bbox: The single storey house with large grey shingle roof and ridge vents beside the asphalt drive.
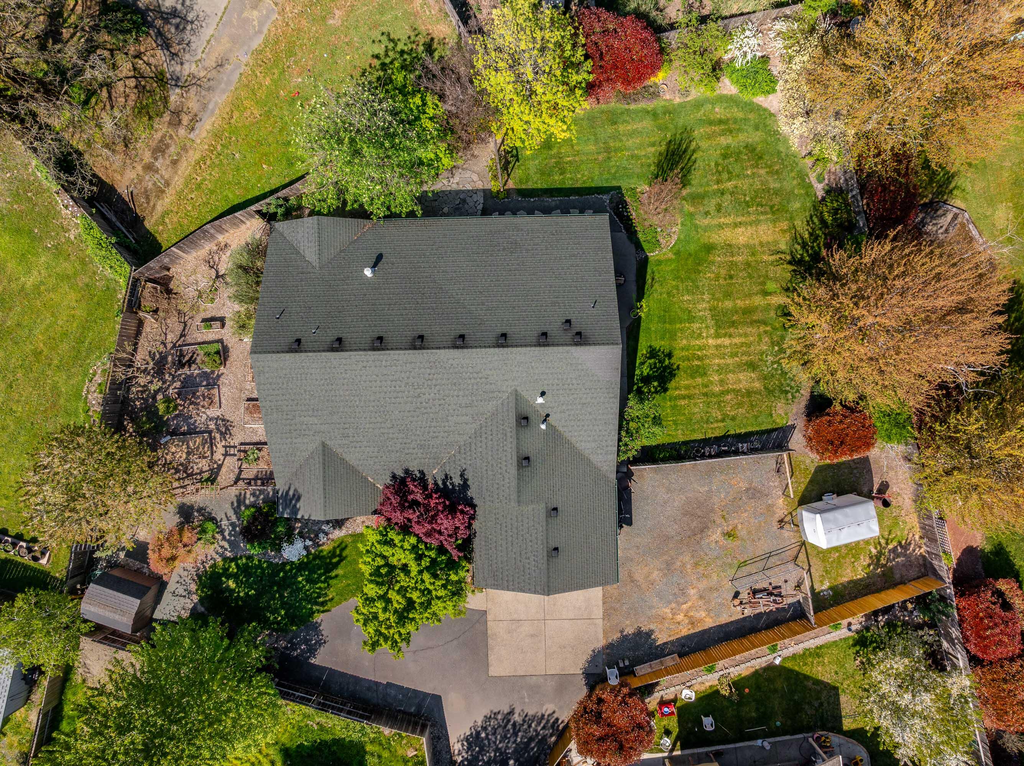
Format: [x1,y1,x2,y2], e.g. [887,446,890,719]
[250,211,622,596]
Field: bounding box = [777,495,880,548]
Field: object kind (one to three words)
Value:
trailer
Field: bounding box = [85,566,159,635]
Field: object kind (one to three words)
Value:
shed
